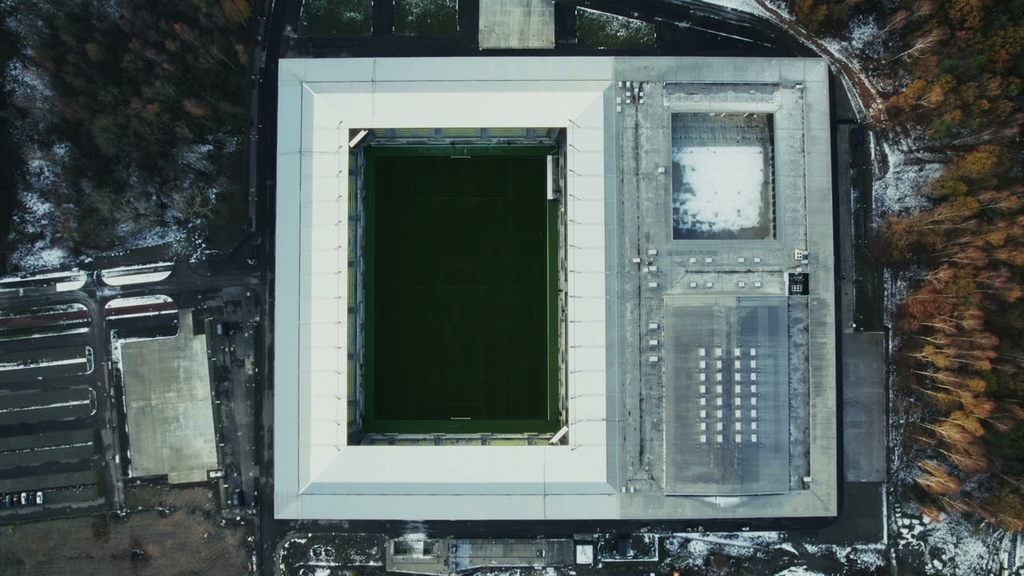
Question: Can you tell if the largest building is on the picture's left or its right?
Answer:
right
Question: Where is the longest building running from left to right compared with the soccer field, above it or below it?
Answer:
below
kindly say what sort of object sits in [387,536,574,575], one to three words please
building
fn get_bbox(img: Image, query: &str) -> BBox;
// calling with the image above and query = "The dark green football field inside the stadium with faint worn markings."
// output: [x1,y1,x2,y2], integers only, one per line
[365,145,560,433]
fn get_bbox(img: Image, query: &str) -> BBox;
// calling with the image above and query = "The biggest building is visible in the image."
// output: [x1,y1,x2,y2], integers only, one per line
[612,56,837,518]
